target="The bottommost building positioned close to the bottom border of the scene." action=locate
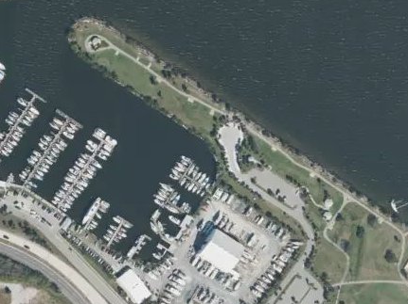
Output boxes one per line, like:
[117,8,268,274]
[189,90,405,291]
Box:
[114,268,150,304]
